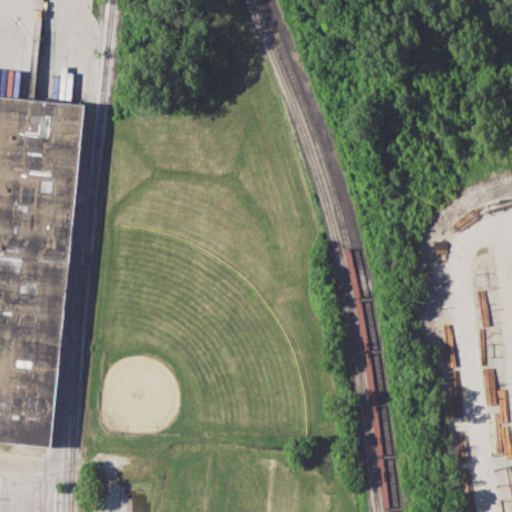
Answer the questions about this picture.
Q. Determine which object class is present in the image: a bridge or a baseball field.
baseball field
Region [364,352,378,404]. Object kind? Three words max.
rail car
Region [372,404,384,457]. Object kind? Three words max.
rail car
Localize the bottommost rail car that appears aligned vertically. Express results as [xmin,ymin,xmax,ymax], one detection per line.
[378,458,390,510]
